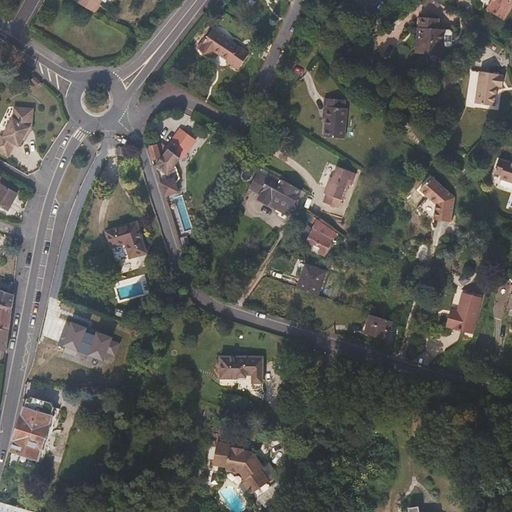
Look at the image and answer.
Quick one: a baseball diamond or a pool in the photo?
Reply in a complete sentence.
Looking from above, you can make out a pool.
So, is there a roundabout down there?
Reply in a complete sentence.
Yes, a roundabout is visible in the scene.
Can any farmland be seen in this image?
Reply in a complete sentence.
No, the picture contains no farmland.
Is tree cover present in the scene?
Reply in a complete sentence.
Yes, there is tree cover in the image.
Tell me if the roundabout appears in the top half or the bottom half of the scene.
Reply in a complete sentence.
It is in the top half that the roundabout appears.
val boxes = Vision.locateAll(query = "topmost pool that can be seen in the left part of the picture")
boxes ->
[168,193,193,236]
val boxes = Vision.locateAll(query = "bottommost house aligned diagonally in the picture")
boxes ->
[213,442,271,495]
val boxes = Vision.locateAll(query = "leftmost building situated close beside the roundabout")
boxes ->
[0,107,34,162]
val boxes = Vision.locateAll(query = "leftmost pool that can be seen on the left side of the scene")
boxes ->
[114,274,149,303]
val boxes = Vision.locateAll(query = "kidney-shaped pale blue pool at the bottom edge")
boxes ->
[221,488,246,512]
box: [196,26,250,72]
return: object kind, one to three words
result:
house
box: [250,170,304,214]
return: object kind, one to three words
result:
house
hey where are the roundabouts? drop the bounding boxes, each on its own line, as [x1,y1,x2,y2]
[65,69,134,134]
